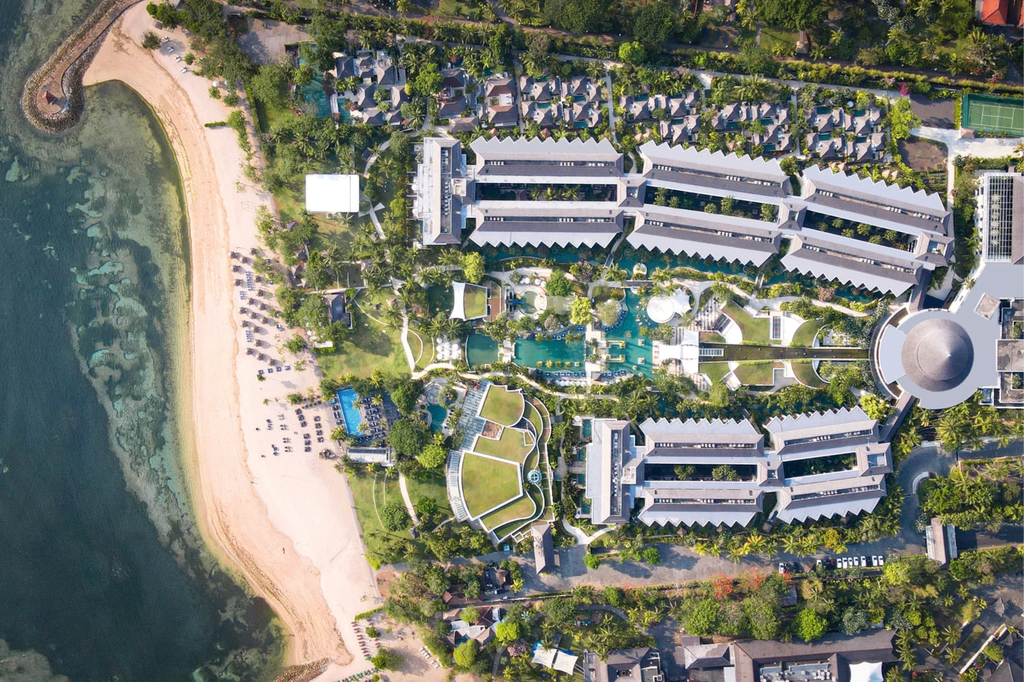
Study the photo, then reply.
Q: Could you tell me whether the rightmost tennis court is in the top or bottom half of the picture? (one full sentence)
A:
The rightmost tennis court sits in the top half of the picture.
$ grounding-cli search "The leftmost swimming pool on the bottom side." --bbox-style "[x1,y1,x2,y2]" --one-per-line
[336,387,364,438]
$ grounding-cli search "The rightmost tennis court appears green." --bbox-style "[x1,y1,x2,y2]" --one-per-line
[962,92,1024,140]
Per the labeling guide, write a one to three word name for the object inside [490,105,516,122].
house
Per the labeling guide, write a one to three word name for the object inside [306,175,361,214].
tent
